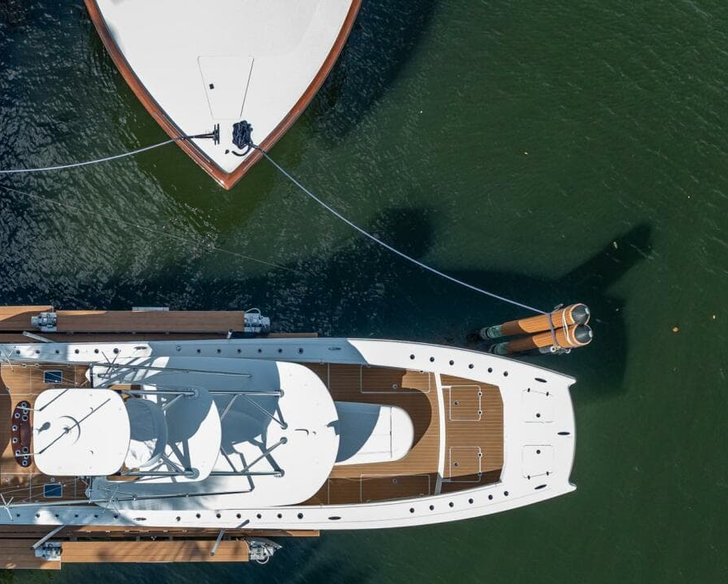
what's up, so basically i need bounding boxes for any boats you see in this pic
[0,337,575,530]
[85,0,361,190]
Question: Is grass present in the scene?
No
